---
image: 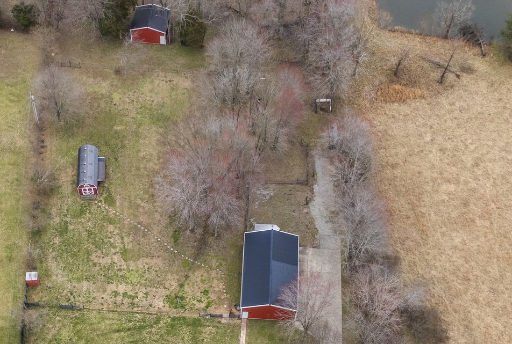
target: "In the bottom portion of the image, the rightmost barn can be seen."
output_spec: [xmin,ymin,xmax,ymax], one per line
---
[240,226,302,320]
